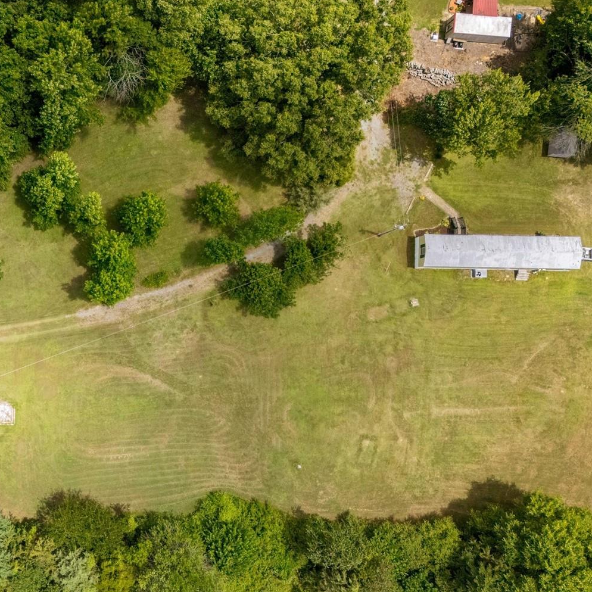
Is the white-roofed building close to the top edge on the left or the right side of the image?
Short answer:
right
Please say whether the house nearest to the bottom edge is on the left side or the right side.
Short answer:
right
